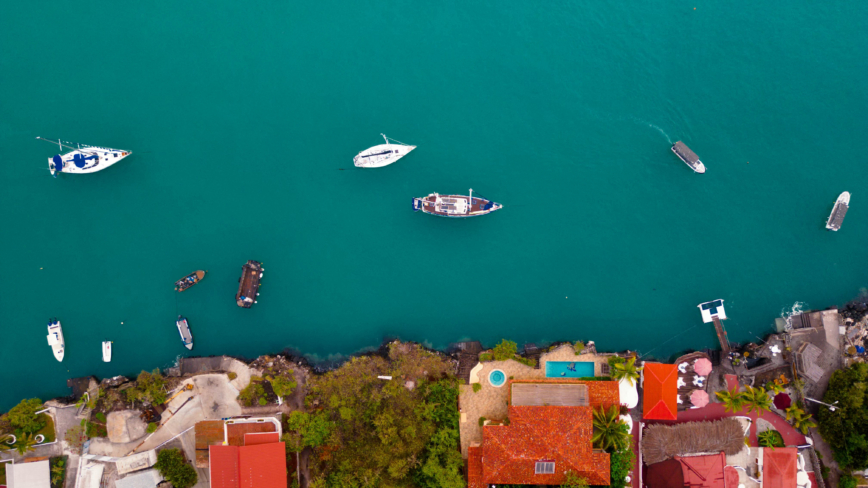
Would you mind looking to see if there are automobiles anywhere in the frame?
No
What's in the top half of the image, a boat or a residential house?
boat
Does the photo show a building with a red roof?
Yes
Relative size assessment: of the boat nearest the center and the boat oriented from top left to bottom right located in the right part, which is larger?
the boat nearest the center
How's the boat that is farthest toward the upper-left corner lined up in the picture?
horizontally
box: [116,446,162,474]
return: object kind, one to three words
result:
shed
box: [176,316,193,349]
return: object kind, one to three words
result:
boat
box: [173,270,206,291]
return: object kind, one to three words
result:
boat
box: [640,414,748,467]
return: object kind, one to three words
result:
building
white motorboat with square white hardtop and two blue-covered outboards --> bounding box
[47,315,66,362]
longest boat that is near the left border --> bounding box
[35,136,131,176]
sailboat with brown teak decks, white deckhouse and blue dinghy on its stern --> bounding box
[412,189,503,217]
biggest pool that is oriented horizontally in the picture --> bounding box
[545,360,595,379]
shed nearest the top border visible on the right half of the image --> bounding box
[698,298,728,323]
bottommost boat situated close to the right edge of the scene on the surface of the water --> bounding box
[825,192,852,232]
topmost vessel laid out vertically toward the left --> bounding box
[236,261,264,308]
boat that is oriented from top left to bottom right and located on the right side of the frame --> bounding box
[669,141,706,173]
